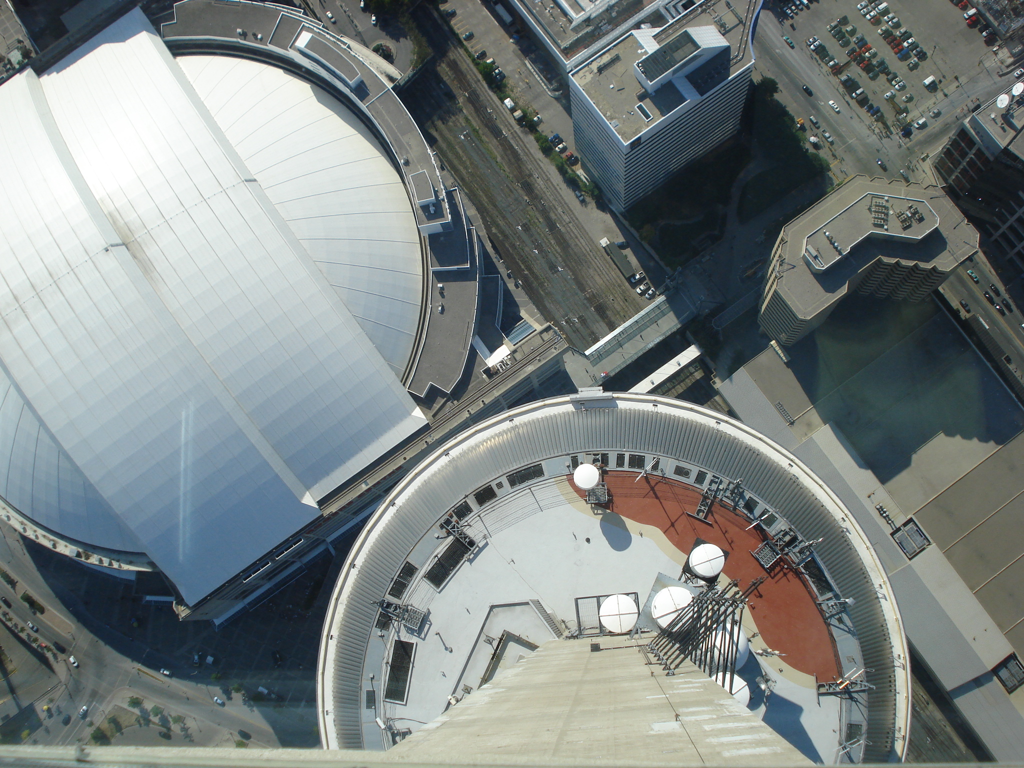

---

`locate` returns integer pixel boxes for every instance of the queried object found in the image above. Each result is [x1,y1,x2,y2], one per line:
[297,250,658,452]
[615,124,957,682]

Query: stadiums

[0,0,573,635]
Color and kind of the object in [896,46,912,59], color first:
blue vehicle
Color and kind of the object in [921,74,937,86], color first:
white vehicle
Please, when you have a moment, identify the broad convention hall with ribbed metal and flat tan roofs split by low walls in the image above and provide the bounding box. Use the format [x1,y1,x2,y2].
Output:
[715,295,1024,764]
